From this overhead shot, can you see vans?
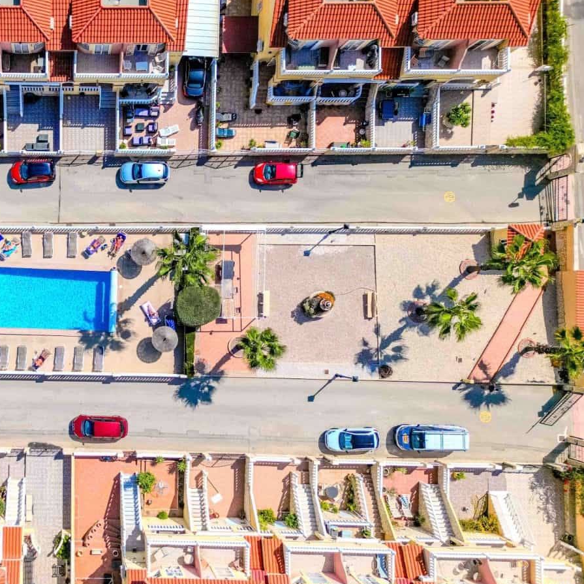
Yes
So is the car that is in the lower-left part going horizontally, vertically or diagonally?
horizontally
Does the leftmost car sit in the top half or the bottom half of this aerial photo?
top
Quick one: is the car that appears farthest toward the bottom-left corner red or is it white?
red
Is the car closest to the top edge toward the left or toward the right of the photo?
left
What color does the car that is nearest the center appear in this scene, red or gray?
red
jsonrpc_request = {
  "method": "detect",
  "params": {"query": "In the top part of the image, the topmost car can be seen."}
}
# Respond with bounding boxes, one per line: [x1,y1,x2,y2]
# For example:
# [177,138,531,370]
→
[179,56,208,111]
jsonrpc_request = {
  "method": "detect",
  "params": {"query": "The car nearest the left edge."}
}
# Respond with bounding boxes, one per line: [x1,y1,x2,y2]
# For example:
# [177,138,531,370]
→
[9,158,56,184]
